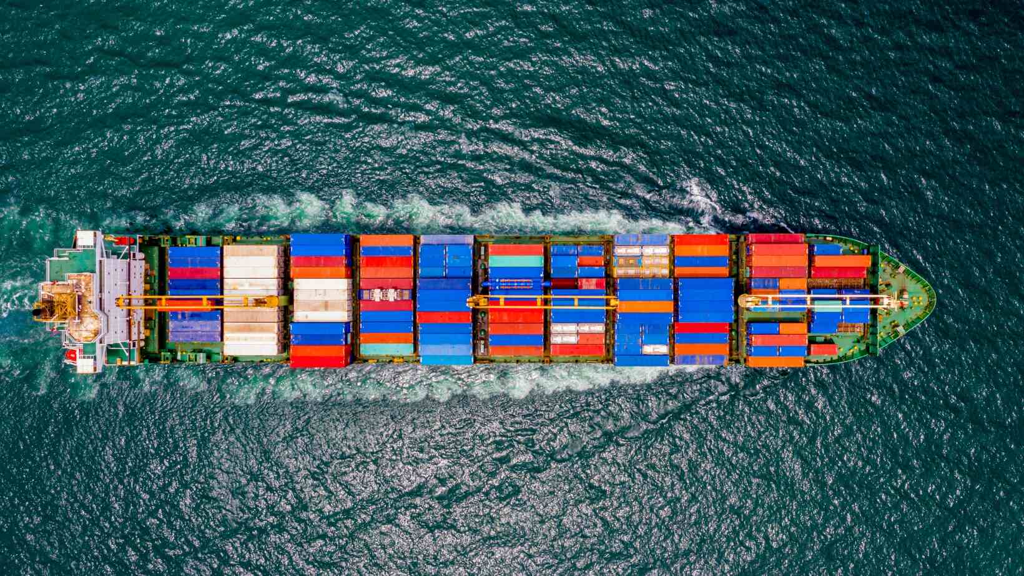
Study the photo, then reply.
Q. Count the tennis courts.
0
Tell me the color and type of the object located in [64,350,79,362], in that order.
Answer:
red boat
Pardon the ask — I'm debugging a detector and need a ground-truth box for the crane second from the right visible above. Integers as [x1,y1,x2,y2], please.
[471,294,618,309]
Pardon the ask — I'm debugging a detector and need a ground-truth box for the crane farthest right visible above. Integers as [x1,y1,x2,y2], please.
[728,294,896,309]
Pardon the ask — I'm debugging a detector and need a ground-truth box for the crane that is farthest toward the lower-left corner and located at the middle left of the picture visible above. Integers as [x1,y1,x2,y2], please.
[119,294,294,309]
